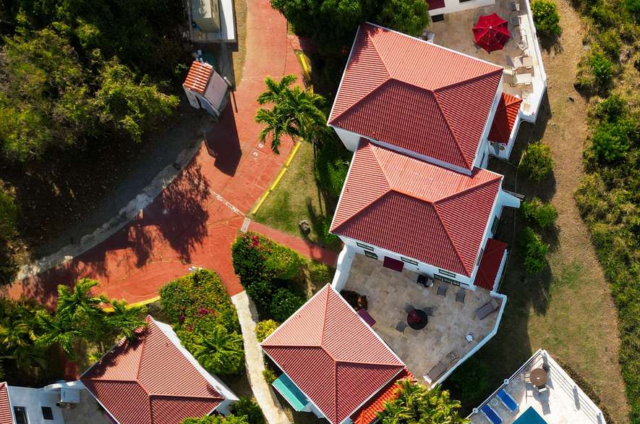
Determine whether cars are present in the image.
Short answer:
No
